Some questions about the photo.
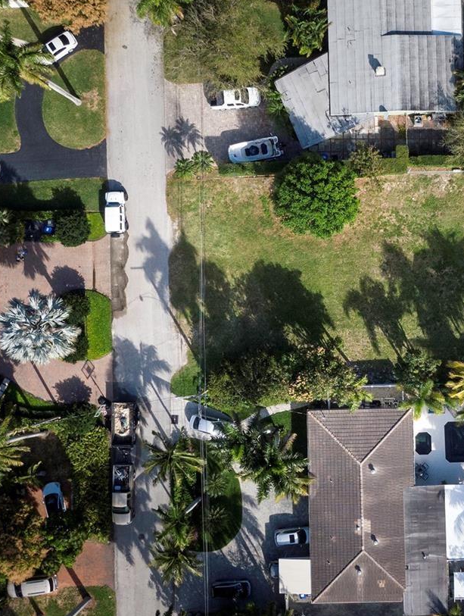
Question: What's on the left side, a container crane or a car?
car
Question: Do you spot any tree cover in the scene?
Yes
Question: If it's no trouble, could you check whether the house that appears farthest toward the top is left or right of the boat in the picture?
right of it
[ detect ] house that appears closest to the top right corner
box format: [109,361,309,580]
[276,0,463,148]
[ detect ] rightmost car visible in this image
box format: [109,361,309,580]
[273,527,310,546]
